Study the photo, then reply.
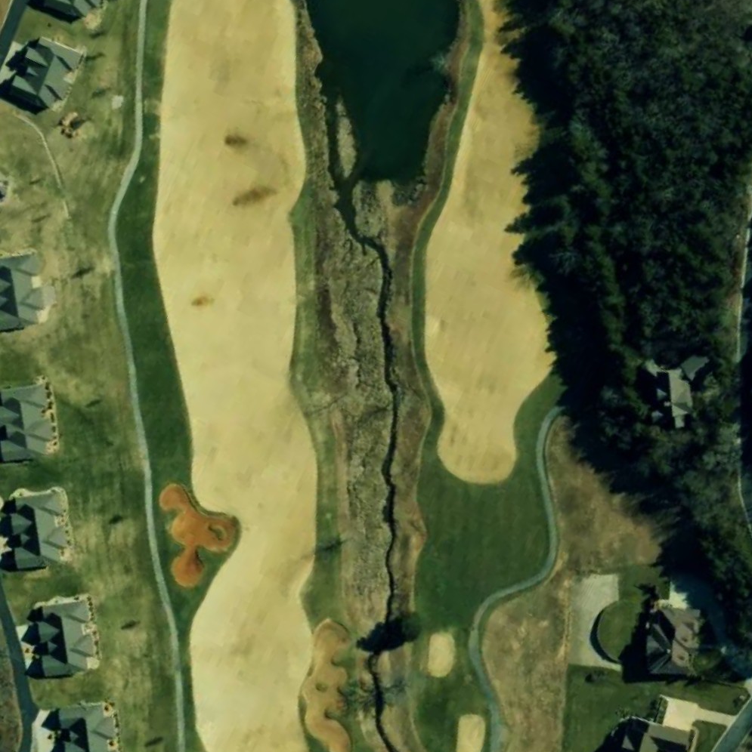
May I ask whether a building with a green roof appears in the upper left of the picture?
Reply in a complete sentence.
Yes, the scene does show a building with a green roof in the upper left of the picture.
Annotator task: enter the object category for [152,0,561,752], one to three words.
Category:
golf course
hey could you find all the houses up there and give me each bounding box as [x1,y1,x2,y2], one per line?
[643,609,702,676]
[645,353,714,430]
[0,387,53,463]
[37,602,93,678]
[622,719,695,752]
[11,33,83,112]
[60,708,115,752]
[46,0,102,19]
[0,254,45,329]
[8,493,66,569]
